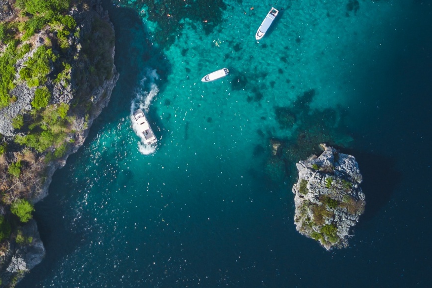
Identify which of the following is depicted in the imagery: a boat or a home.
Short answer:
boat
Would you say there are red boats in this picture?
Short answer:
No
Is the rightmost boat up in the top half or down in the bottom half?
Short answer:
top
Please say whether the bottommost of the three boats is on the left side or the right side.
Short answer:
left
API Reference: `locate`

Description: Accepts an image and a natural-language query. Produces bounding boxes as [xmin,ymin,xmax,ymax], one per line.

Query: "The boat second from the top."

[201,68,230,82]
